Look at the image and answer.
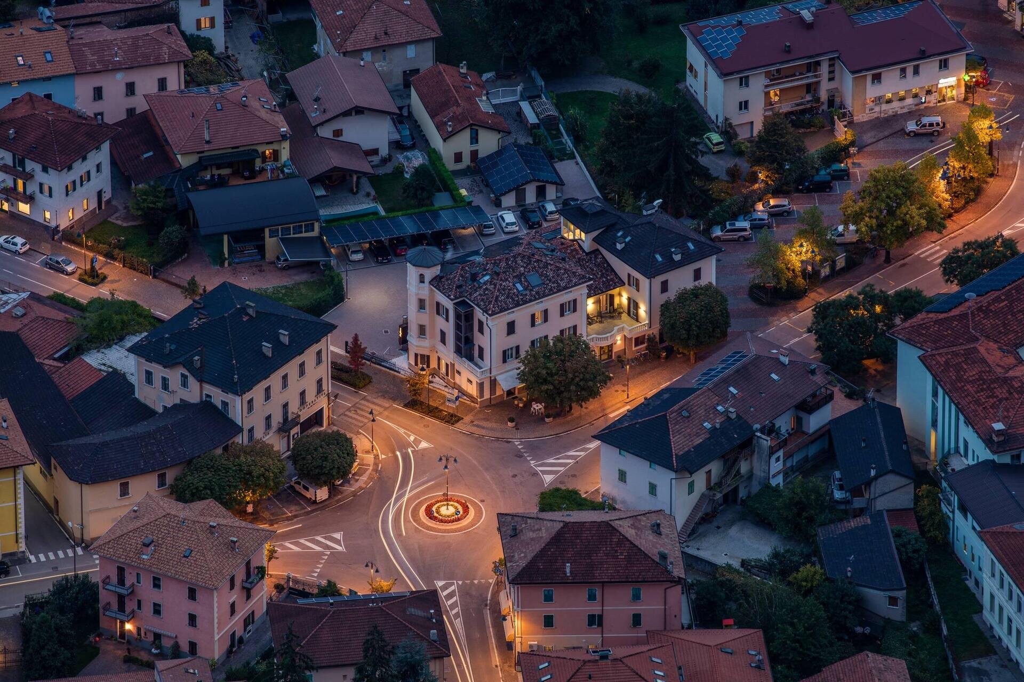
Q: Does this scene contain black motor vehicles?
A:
Yes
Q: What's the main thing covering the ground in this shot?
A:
buildings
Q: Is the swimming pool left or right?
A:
left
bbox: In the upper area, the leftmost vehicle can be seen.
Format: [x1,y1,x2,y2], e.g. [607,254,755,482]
[0,236,32,257]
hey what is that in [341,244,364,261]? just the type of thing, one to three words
car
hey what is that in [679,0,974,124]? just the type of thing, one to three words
building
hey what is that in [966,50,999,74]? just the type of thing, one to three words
car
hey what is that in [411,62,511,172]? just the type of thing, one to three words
house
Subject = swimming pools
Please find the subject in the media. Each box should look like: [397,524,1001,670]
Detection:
[318,204,380,226]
